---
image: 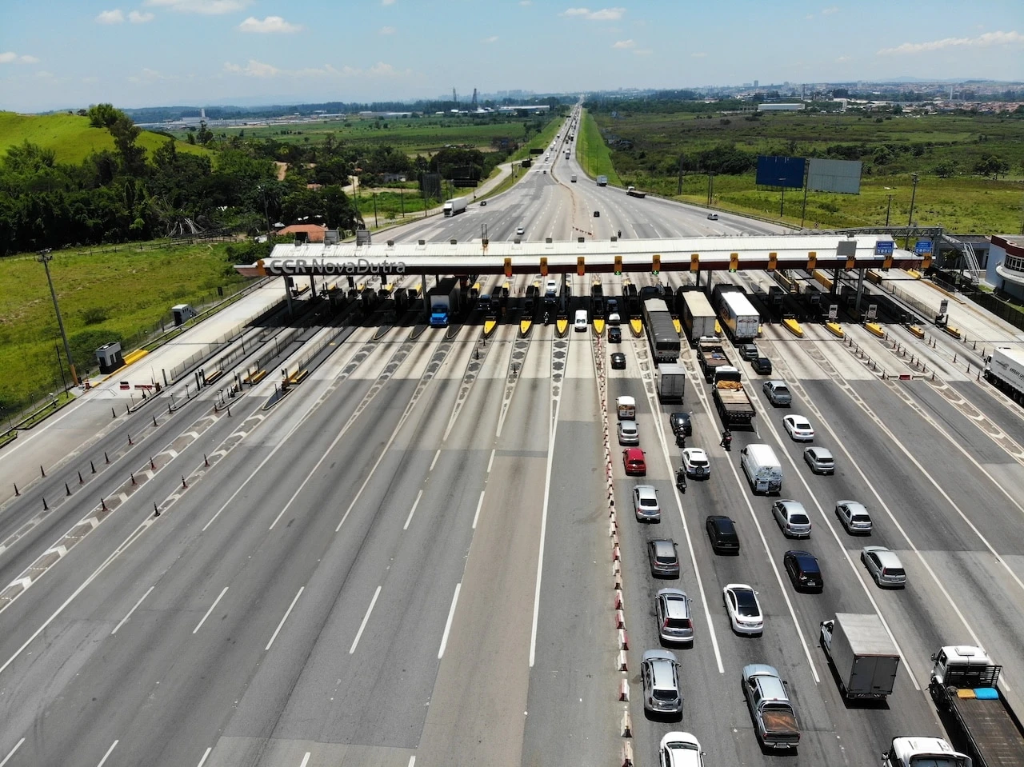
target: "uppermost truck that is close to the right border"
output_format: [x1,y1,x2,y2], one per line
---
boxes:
[982,351,1024,401]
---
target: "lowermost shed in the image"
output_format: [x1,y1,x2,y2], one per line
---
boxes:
[87,345,127,378]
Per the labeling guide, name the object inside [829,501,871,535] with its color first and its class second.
gray car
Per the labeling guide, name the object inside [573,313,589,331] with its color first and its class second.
white vehicle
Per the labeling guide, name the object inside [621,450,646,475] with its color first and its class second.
red car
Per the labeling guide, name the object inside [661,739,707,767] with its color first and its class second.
white car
